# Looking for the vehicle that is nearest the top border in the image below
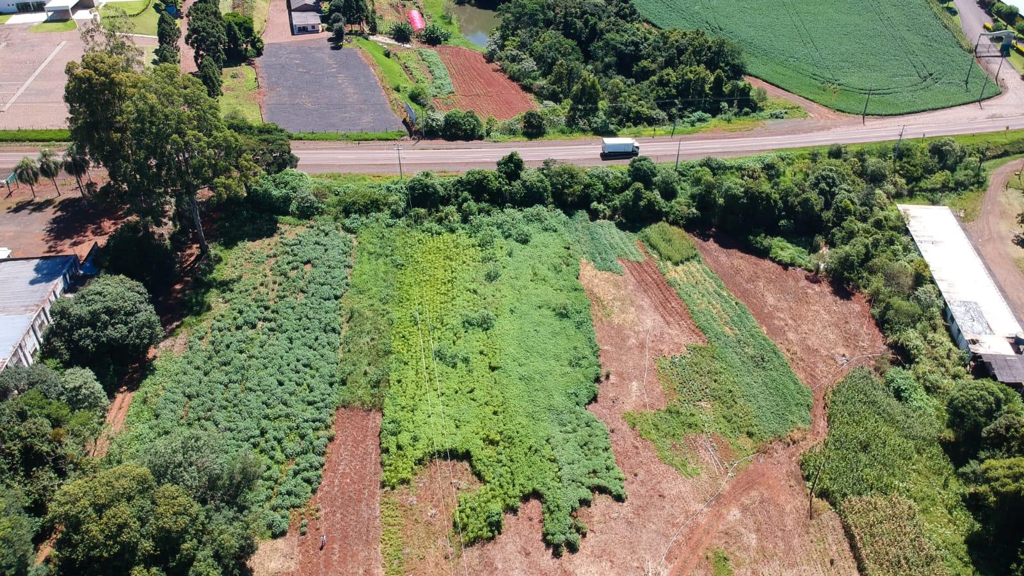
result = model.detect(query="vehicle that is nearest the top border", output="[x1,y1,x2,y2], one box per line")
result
[600,136,639,155]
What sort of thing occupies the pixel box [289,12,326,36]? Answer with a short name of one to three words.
house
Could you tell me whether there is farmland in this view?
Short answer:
Yes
